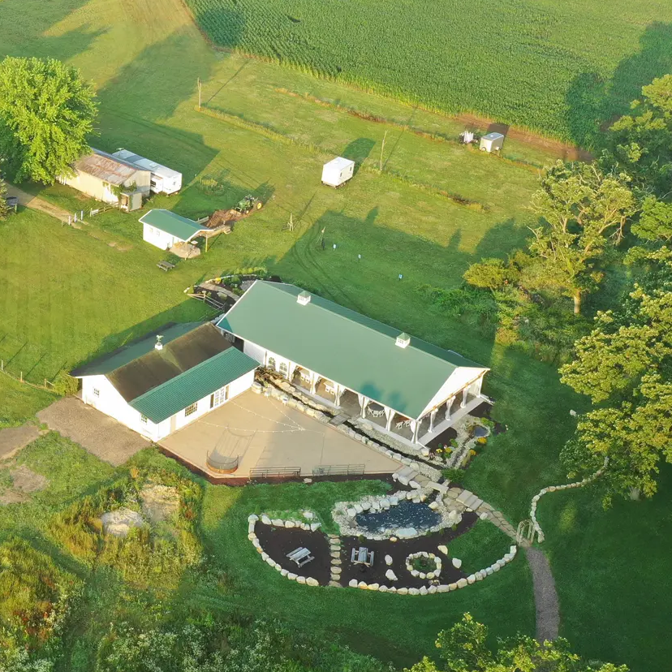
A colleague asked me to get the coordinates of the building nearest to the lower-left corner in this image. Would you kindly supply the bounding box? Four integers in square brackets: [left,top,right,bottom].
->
[71,320,259,442]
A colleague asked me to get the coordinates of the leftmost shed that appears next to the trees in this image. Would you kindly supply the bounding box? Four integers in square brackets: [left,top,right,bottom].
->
[61,147,147,209]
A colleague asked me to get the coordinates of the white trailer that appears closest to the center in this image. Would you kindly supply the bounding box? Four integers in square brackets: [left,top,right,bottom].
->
[321,156,353,186]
